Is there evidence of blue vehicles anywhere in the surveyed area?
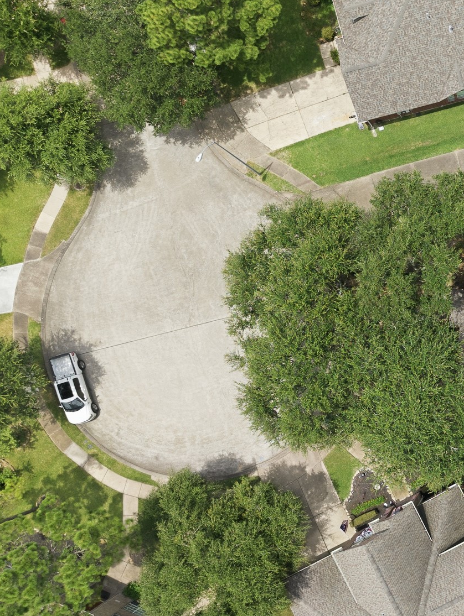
No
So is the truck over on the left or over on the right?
left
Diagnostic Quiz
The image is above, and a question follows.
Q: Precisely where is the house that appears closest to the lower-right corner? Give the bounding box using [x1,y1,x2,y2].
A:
[283,481,464,616]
